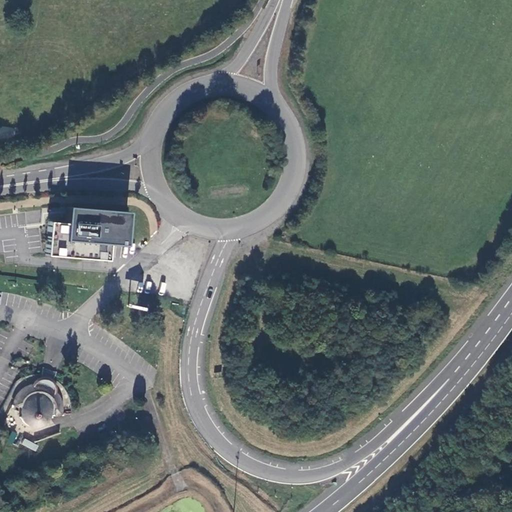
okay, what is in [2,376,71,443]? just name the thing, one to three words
building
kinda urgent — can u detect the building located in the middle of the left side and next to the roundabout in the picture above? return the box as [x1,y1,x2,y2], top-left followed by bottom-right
[46,208,134,261]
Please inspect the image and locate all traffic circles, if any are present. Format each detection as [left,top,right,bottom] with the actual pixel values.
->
[131,72,308,243]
